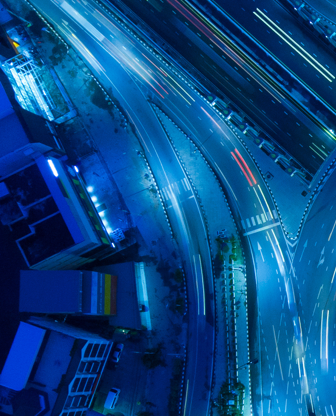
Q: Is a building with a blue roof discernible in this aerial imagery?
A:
Yes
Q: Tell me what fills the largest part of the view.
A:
paved ground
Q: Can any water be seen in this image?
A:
No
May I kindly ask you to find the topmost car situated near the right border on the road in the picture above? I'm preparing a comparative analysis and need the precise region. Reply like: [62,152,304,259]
[316,62,333,79]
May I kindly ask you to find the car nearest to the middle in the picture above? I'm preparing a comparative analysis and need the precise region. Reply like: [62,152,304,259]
[170,193,183,212]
